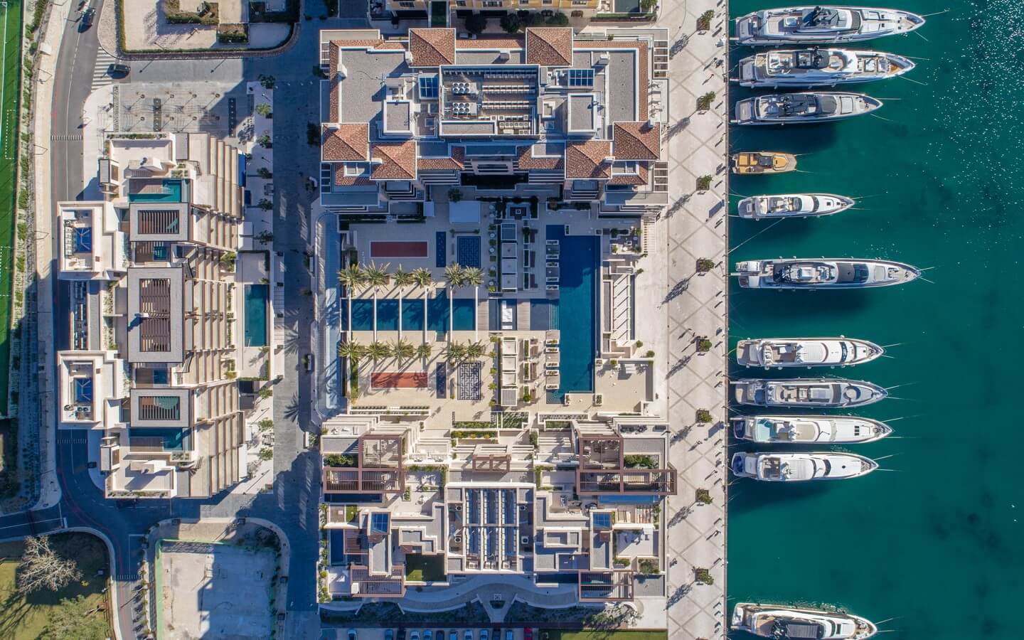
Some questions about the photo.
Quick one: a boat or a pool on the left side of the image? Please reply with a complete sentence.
It is a pool that can be seen on the left side of the image.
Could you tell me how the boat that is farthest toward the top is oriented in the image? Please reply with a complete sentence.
In this picture, the boat that is farthest toward the top lies from left to right.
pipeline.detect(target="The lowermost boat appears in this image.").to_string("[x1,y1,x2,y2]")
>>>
[725,598,893,640]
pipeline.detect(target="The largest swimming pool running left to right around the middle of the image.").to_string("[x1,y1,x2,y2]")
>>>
[343,287,475,341]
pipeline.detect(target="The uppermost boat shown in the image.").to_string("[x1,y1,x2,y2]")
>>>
[723,6,942,52]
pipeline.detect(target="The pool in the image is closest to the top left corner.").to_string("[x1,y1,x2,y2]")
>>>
[128,179,184,203]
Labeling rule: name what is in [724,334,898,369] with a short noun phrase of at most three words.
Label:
boat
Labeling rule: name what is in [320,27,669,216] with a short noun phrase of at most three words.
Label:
building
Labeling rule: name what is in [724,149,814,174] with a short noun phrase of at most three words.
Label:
boat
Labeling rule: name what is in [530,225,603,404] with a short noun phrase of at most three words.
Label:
swimming pool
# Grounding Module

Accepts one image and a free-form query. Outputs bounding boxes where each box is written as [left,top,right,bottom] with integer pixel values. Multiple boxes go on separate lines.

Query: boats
[725,598,893,640]
[725,191,871,252]
[724,413,904,447]
[723,6,942,52]
[725,49,927,93]
[724,376,899,410]
[724,255,932,297]
[724,149,814,174]
[724,451,896,487]
[725,93,898,129]
[724,334,898,369]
